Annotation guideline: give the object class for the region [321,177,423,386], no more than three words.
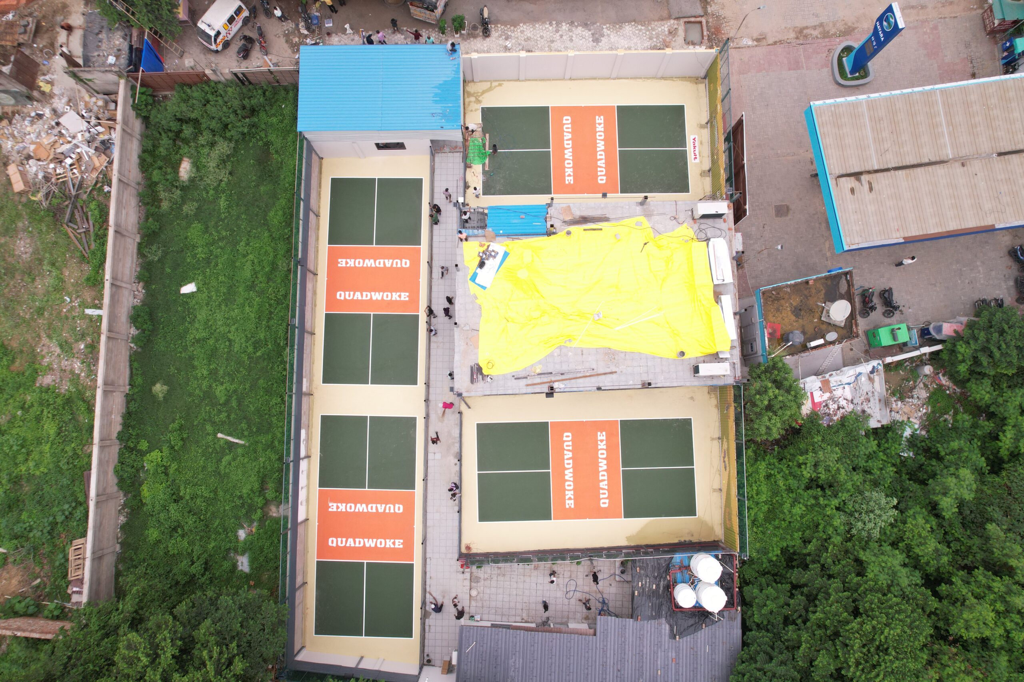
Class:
sports court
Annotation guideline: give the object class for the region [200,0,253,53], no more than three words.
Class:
van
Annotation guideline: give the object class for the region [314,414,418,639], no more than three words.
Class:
sports court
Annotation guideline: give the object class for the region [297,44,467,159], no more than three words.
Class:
building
